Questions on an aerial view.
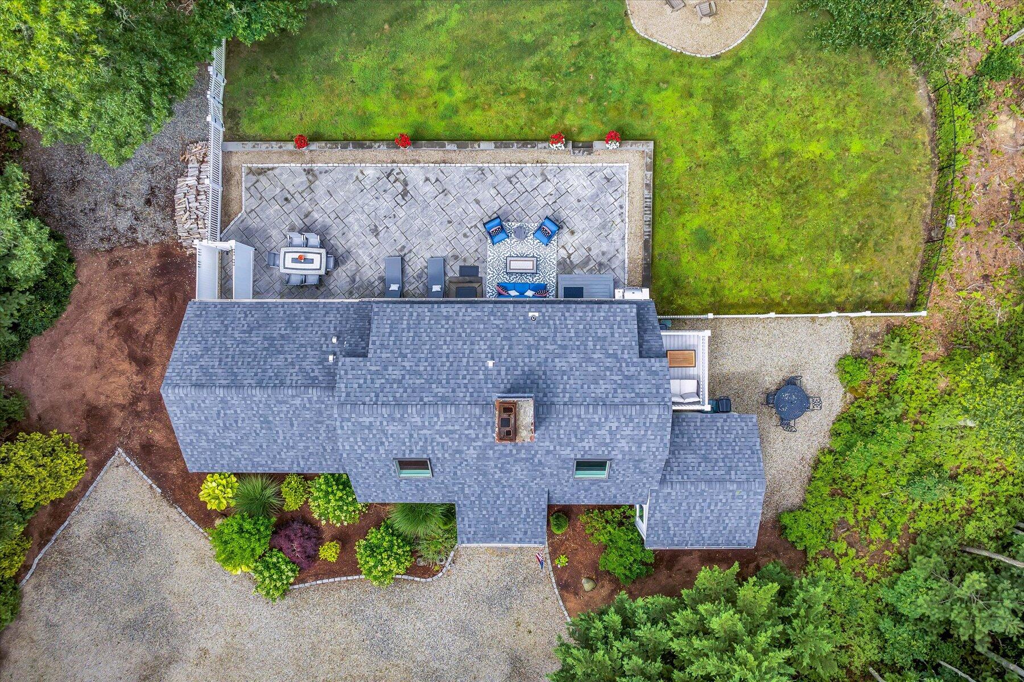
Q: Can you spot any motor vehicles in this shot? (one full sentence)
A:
No, no motor vehicle is visible in the view.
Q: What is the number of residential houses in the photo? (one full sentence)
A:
There is 1 residential house in the image.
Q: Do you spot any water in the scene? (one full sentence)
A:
No, the scene doesn't show any water.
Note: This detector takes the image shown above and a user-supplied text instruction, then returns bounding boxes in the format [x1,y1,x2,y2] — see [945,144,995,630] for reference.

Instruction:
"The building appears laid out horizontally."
[161,297,766,552]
